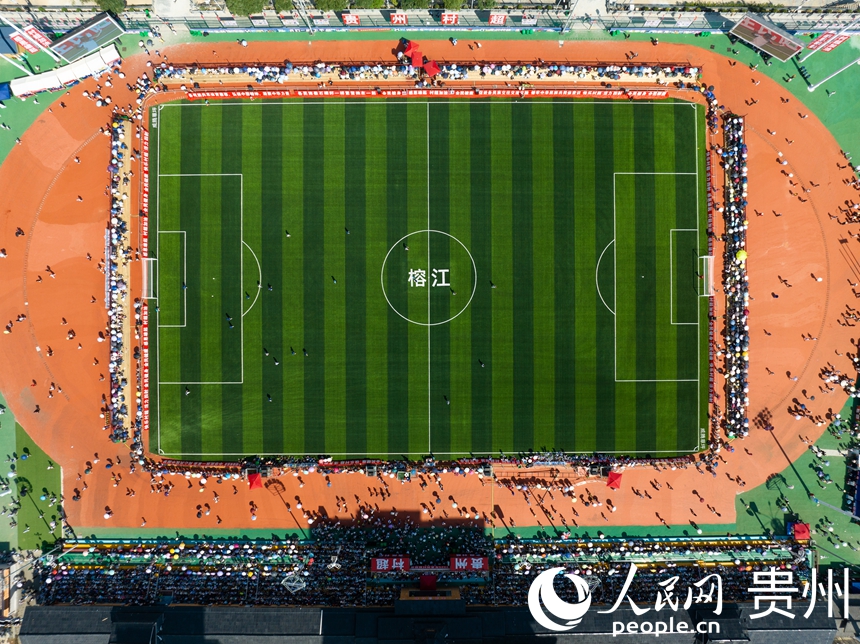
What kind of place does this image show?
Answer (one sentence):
What you see here is a sports ground.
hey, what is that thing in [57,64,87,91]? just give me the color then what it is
white tent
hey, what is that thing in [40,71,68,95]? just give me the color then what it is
white tent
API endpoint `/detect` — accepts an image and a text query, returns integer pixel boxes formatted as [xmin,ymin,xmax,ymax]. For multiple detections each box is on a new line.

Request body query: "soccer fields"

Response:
[149,97,709,462]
